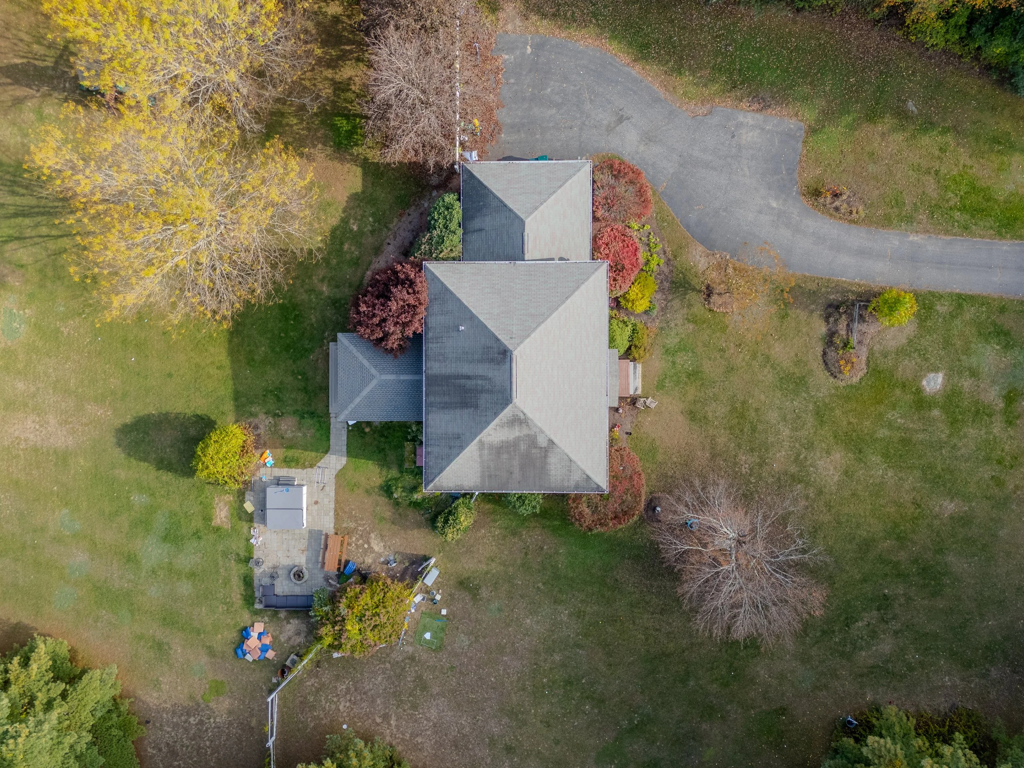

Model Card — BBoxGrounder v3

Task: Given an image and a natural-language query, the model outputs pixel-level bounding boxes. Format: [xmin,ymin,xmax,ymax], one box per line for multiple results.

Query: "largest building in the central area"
[329,161,642,504]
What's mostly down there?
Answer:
grass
